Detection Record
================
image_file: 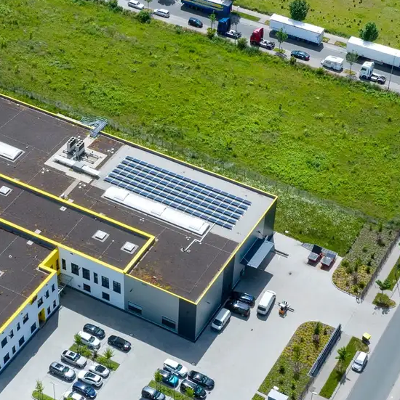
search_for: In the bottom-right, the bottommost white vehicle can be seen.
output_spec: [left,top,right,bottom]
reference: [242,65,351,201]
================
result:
[350,349,369,373]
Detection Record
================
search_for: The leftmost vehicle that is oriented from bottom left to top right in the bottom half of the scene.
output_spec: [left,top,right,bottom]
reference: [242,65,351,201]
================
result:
[211,306,233,331]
